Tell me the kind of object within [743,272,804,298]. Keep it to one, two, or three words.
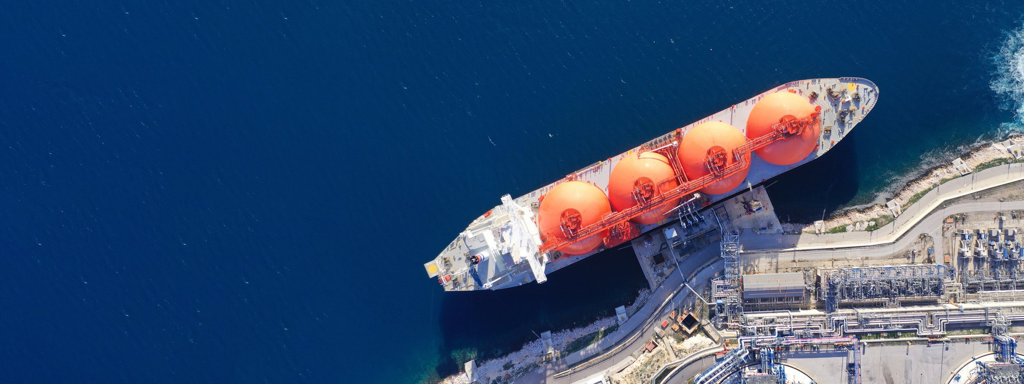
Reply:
shed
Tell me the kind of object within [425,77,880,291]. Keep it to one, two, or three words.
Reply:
ship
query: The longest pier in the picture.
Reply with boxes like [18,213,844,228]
[631,185,784,292]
